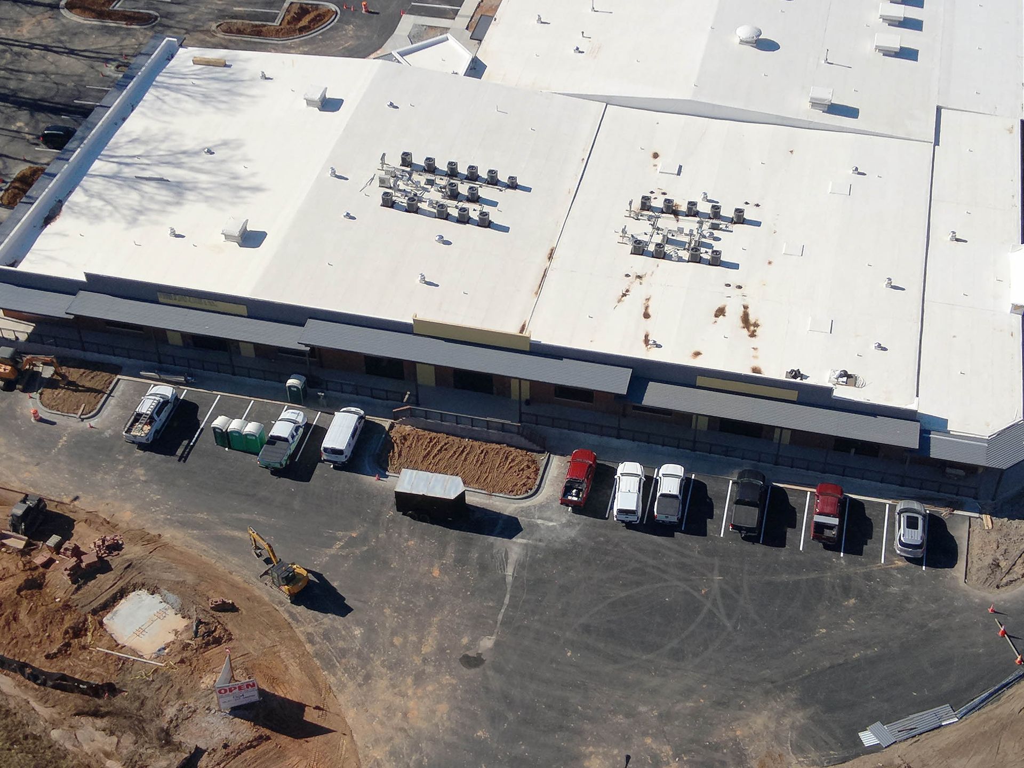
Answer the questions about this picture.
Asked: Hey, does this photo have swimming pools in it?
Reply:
No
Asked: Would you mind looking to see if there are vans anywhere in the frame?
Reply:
Yes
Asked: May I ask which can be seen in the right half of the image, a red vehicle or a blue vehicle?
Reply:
red vehicle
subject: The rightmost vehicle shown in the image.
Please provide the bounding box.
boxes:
[892,500,933,560]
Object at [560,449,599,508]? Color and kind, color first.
red truck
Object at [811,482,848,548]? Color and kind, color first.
red truck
